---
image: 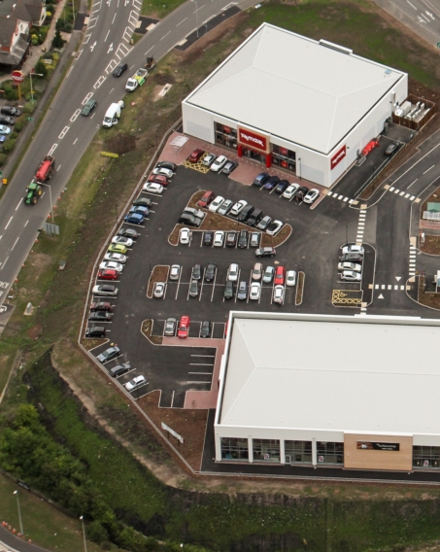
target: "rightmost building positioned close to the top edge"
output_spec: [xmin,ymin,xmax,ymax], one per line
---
[183,21,407,187]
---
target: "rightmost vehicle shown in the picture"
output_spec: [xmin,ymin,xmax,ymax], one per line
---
[386,141,401,154]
